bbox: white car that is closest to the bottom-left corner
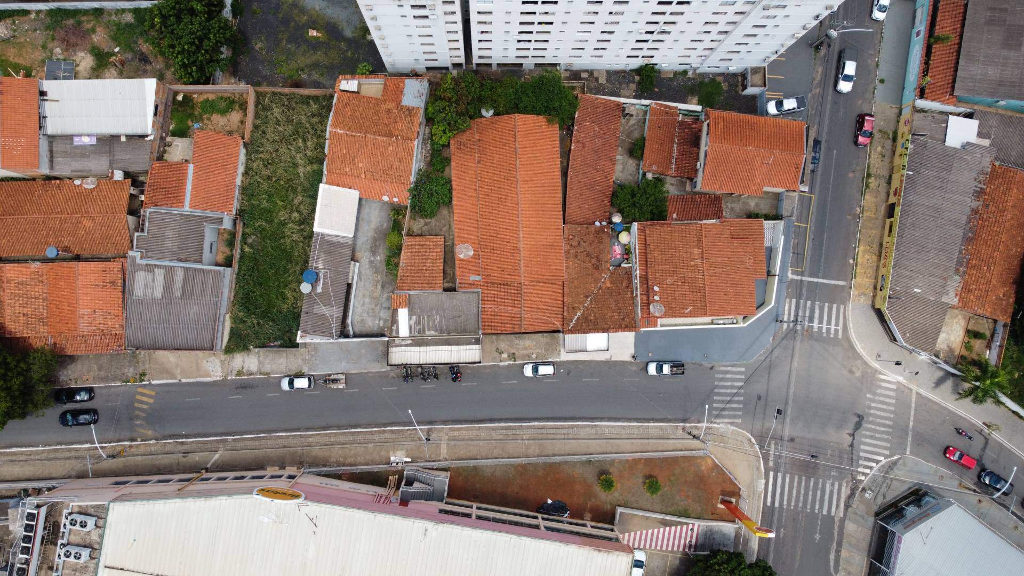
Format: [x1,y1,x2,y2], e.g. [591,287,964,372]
[282,375,315,391]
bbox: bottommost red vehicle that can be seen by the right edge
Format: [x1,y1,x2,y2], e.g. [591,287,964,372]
[942,445,976,469]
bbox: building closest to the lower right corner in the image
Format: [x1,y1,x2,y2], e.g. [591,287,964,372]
[852,488,1024,576]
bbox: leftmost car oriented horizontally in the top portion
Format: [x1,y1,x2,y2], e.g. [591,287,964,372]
[765,97,805,114]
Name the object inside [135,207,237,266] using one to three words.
house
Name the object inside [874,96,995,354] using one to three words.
building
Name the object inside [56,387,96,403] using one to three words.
car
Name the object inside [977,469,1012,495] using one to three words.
car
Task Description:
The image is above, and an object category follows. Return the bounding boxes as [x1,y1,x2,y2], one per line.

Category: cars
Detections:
[631,548,646,576]
[282,375,315,391]
[835,48,854,94]
[647,361,683,376]
[942,445,976,469]
[869,0,887,26]
[811,140,822,170]
[977,469,1012,495]
[56,387,96,403]
[765,97,805,114]
[524,362,555,377]
[855,114,872,147]
[61,409,100,425]
[1015,493,1024,509]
